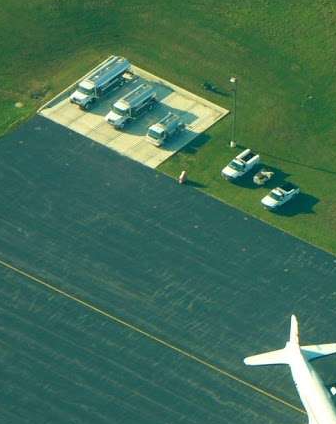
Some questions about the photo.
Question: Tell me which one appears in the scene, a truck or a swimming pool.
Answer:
truck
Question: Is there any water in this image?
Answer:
No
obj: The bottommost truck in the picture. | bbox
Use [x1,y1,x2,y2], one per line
[259,185,301,213]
